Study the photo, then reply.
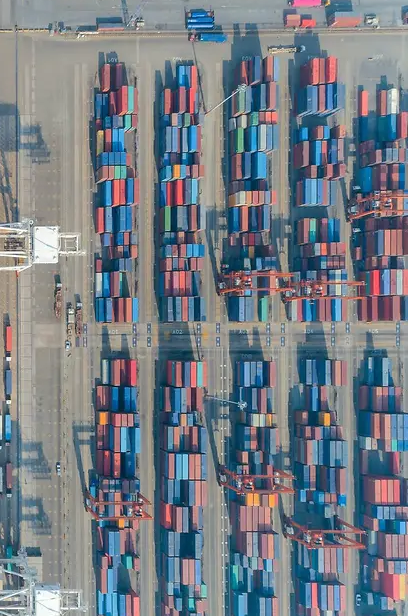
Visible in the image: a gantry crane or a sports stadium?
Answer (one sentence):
Looking from above, you can make out a gantry crane.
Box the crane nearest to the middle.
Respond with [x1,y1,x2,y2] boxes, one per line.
[213,271,295,294]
